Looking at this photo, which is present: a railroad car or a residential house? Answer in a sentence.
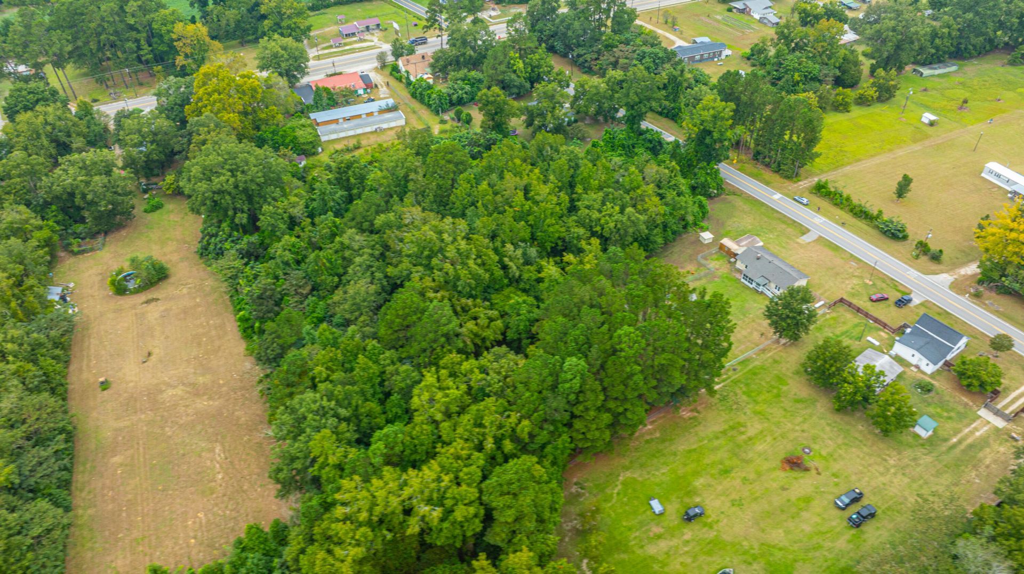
The image shows a residential house.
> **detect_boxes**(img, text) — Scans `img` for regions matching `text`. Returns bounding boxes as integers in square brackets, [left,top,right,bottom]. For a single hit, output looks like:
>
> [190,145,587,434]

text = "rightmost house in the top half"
[981,162,1024,196]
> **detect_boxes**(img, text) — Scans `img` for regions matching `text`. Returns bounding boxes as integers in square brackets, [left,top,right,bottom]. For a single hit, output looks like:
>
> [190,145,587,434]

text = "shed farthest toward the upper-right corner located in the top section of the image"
[912,60,960,76]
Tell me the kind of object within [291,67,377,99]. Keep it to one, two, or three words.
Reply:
building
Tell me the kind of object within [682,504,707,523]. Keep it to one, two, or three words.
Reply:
car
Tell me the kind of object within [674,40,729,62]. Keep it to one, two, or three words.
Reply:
house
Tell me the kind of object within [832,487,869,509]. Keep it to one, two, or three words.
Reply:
truck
